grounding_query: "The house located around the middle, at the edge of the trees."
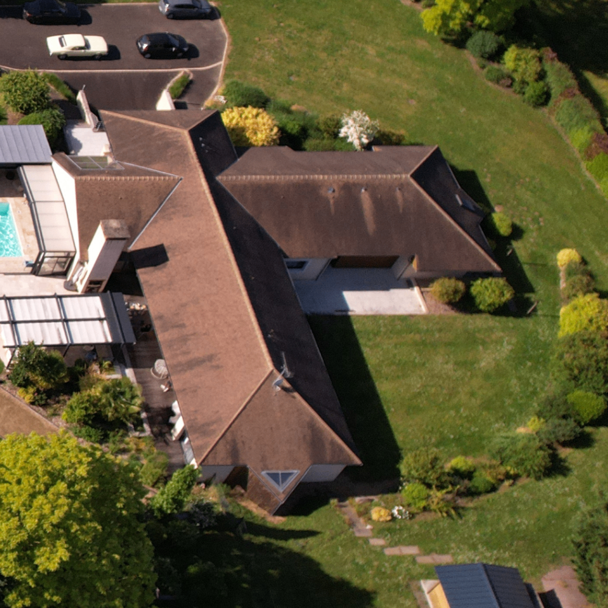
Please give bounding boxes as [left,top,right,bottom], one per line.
[51,109,503,510]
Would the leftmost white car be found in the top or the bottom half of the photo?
top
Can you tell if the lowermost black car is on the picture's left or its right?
left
